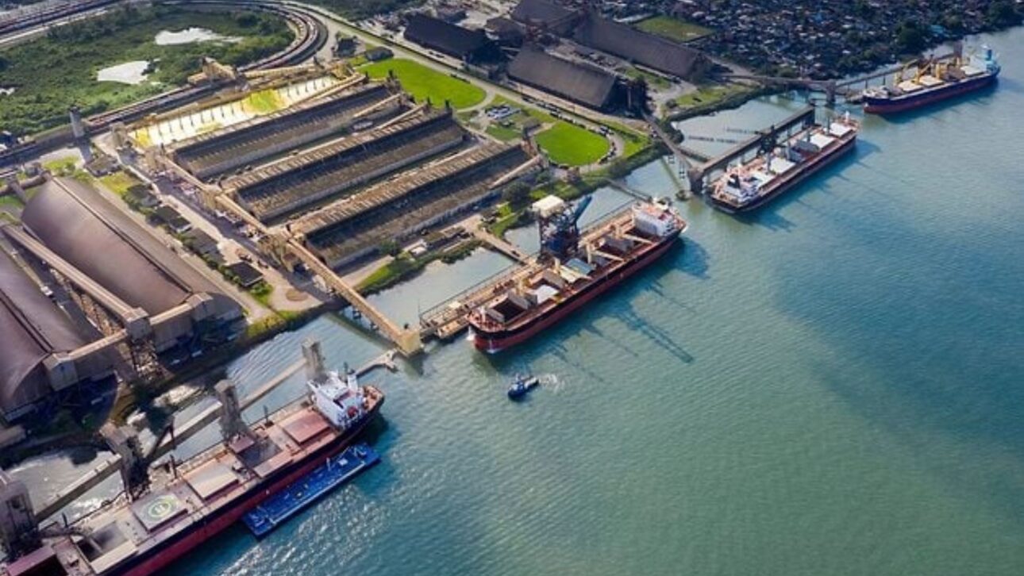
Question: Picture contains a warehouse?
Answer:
Yes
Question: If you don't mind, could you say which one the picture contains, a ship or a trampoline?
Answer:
ship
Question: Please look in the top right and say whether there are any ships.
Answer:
Yes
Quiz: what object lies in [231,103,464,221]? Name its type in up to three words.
shed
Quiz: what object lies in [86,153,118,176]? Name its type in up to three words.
building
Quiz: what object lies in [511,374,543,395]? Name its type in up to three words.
boat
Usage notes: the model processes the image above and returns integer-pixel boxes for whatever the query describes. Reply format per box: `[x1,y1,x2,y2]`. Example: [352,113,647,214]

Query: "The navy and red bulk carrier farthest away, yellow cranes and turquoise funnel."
[862,45,999,109]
